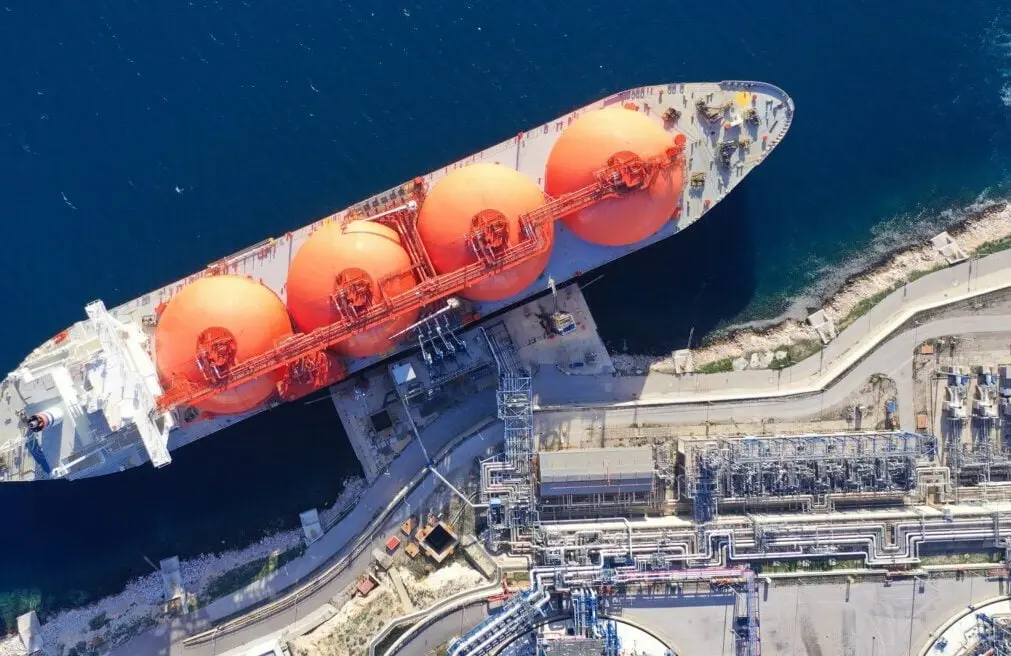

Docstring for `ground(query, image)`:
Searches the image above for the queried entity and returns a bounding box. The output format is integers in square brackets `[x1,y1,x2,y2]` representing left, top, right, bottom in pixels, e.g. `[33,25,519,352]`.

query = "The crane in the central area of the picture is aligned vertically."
[550,279,573,335]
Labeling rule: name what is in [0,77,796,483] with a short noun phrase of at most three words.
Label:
ship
